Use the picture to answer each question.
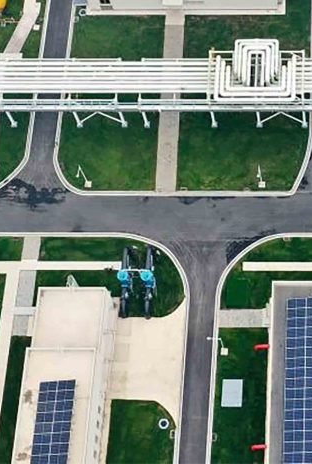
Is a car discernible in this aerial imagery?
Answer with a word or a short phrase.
No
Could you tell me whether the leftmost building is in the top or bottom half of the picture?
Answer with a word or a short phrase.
bottom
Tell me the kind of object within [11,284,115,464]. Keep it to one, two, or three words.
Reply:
building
